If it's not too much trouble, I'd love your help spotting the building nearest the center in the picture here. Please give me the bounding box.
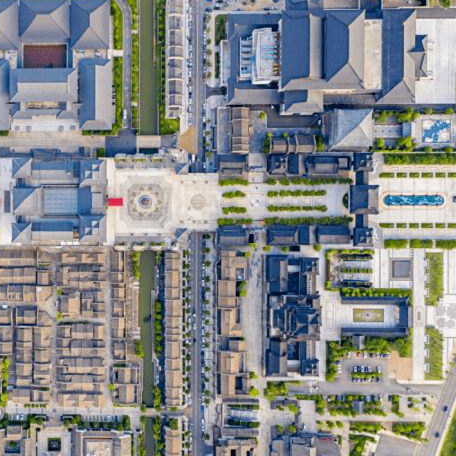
[218,225,249,246]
